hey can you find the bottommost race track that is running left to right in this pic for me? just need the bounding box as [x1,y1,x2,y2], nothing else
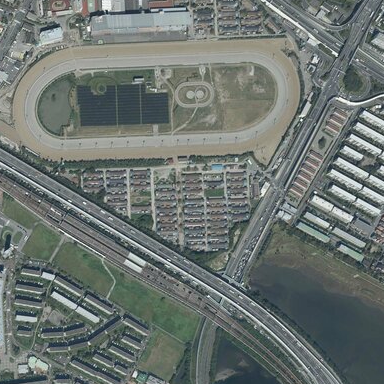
[0,37,301,167]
